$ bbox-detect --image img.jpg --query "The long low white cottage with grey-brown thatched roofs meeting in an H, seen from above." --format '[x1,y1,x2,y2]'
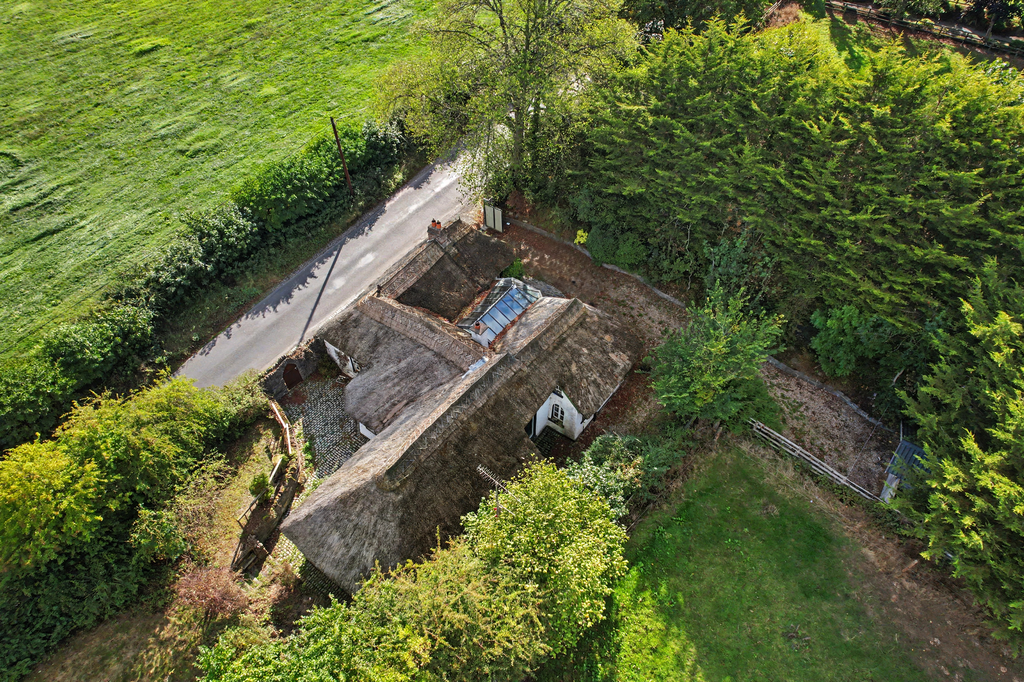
[280,199,643,640]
